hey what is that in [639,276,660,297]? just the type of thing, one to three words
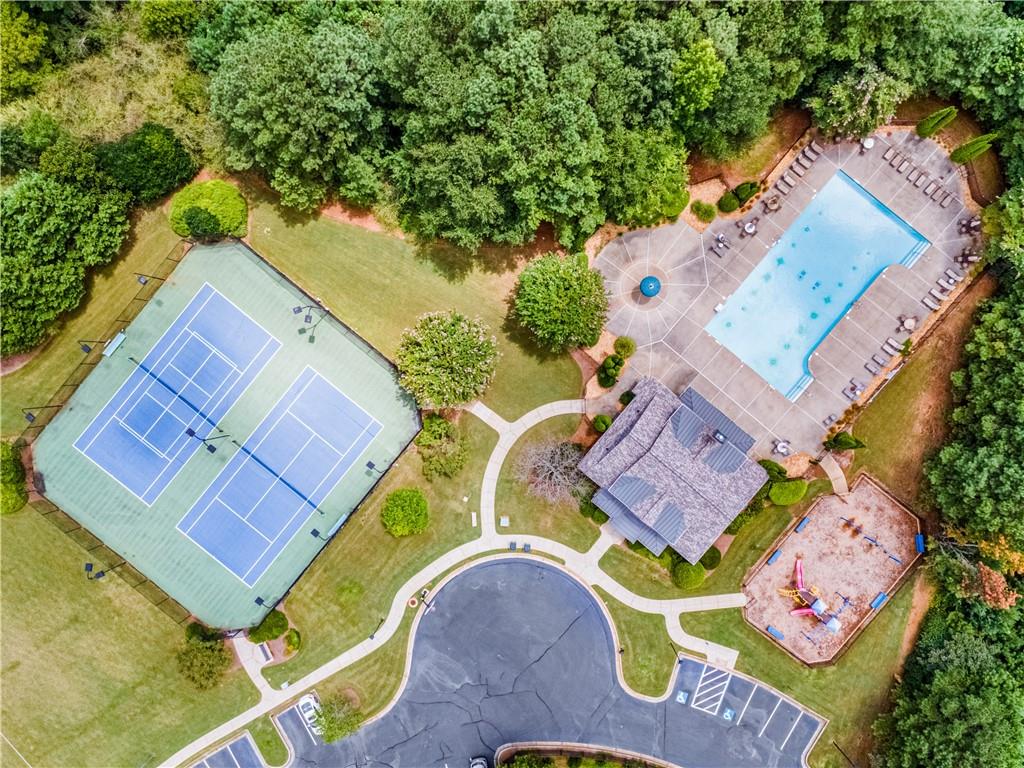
fountain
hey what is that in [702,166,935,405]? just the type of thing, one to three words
swimming pool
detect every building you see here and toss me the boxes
[579,379,769,564]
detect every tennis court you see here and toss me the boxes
[177,365,384,589]
[73,281,283,508]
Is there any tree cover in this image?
Yes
